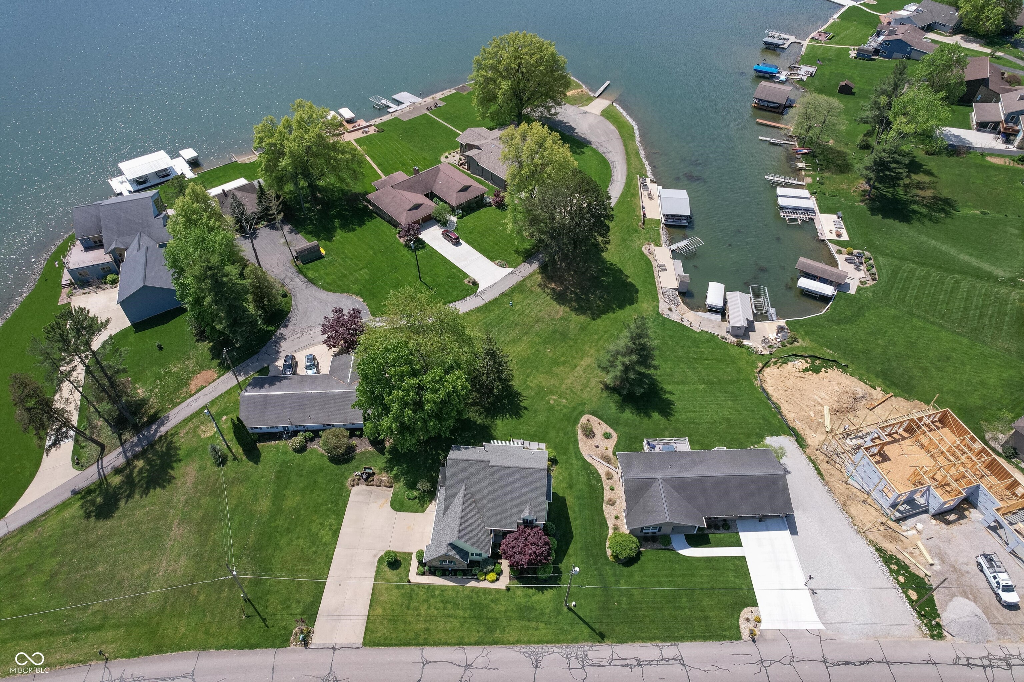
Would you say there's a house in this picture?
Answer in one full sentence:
Yes, this view includes a house.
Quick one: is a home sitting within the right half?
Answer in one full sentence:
Yes, a home shows up within the right half.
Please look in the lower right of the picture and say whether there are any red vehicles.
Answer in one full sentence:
No, there's no red vehicle to be seen in the lower right of the picture.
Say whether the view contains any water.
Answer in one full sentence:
Yes, there is water in the image.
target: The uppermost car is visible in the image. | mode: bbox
[440,228,461,243]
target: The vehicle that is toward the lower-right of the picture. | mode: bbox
[977,550,1021,605]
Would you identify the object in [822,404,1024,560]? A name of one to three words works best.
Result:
house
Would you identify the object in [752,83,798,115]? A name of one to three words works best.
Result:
building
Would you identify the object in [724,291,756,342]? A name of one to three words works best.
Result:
building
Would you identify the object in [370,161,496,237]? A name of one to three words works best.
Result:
house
